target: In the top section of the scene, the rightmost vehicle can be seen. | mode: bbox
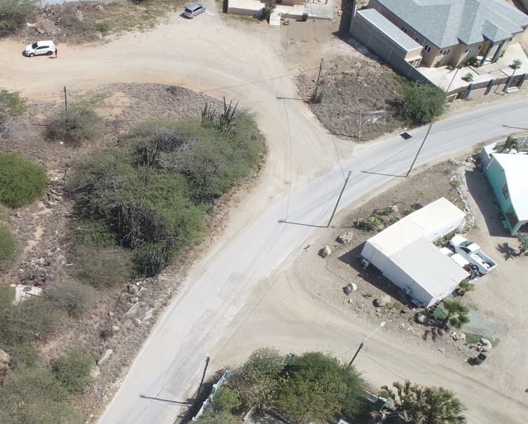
[181,2,208,20]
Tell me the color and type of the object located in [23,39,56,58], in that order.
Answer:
white car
